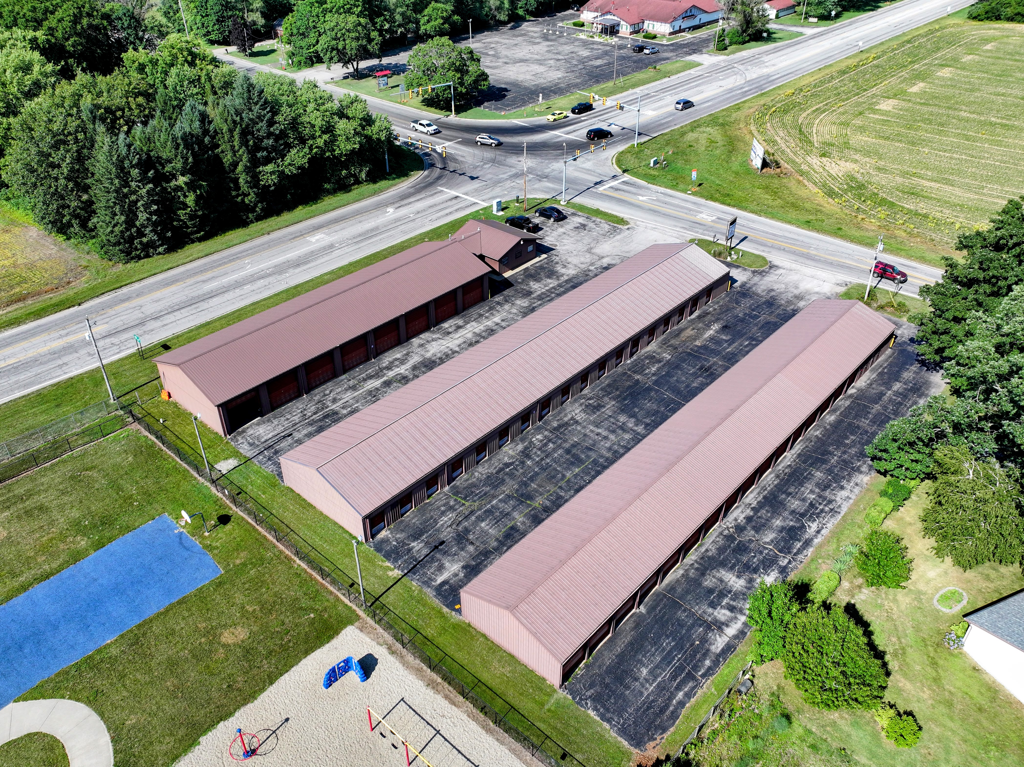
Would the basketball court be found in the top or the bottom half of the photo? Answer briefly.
bottom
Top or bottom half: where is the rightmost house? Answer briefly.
bottom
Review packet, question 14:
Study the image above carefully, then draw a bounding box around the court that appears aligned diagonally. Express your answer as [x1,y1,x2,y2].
[0,513,222,709]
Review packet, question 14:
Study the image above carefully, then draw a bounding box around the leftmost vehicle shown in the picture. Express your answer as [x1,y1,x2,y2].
[411,120,439,135]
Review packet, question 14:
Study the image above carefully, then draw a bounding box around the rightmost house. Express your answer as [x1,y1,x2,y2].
[964,553,1024,679]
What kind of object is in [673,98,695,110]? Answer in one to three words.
vehicle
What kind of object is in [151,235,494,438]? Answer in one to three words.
building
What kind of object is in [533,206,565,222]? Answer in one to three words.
car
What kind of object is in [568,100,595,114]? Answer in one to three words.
vehicle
